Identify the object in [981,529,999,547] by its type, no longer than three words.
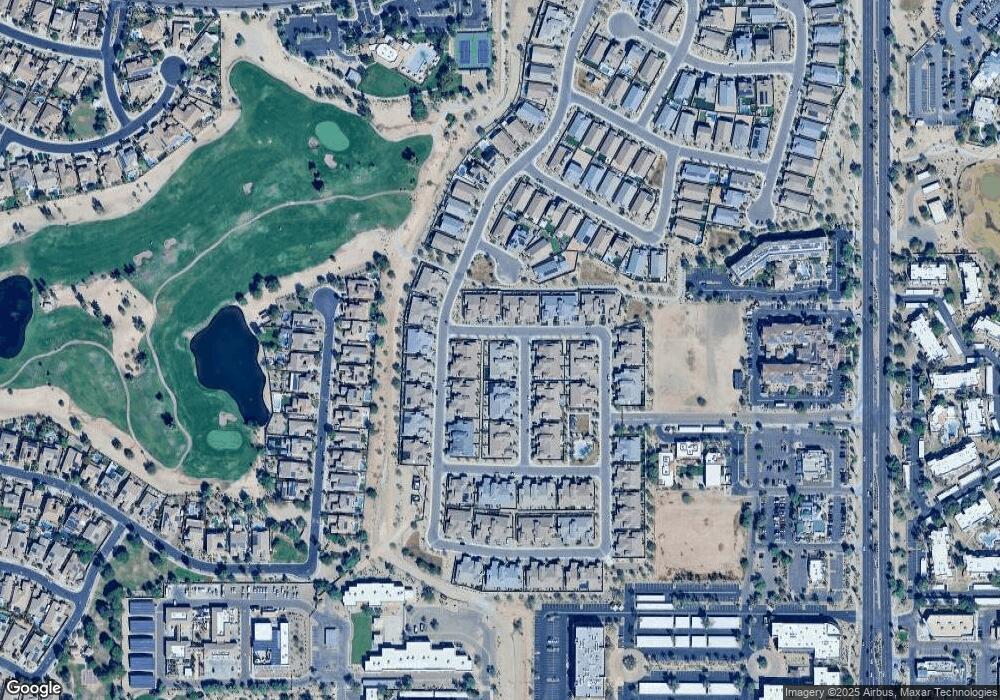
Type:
swimming pool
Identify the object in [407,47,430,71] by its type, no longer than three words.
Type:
swimming pool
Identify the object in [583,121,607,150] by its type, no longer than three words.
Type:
house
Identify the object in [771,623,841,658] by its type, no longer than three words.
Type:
building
